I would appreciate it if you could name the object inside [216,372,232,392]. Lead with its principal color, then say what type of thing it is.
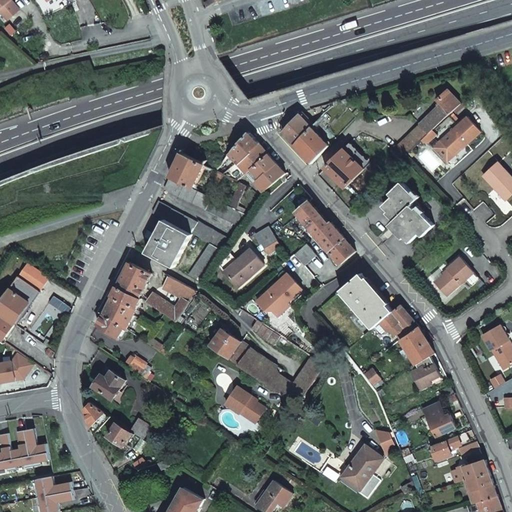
white swimming pool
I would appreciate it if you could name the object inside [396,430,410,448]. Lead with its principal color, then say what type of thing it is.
blue swimming pool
